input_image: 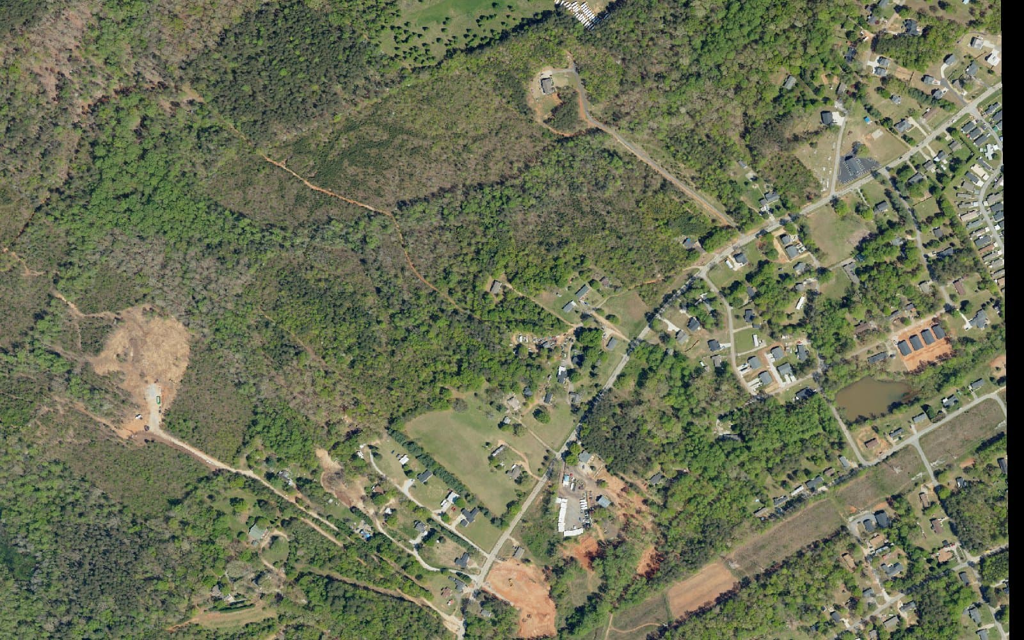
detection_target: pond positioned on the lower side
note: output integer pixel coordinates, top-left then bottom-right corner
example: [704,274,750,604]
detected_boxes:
[835,376,912,420]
